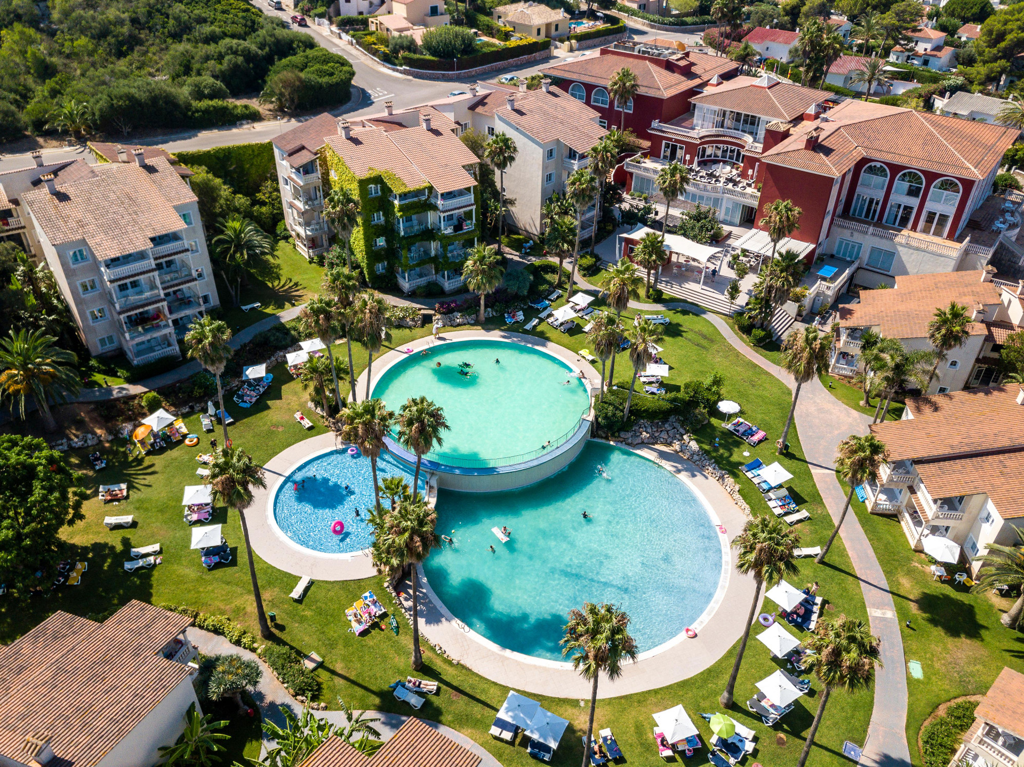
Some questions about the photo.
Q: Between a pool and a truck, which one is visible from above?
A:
pool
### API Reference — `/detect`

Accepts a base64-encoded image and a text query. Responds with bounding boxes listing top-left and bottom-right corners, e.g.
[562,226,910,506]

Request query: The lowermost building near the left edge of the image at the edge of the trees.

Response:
[0,587,204,767]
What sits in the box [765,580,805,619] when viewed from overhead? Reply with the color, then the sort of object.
white umbrella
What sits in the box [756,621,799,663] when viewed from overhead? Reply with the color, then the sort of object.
white umbrella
